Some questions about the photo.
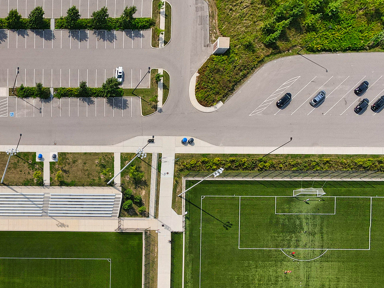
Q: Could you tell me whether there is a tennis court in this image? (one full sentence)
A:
No, the photo shows no tennis court.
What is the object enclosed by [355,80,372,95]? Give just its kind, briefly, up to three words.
car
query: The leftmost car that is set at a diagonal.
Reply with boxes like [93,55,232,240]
[277,93,295,108]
